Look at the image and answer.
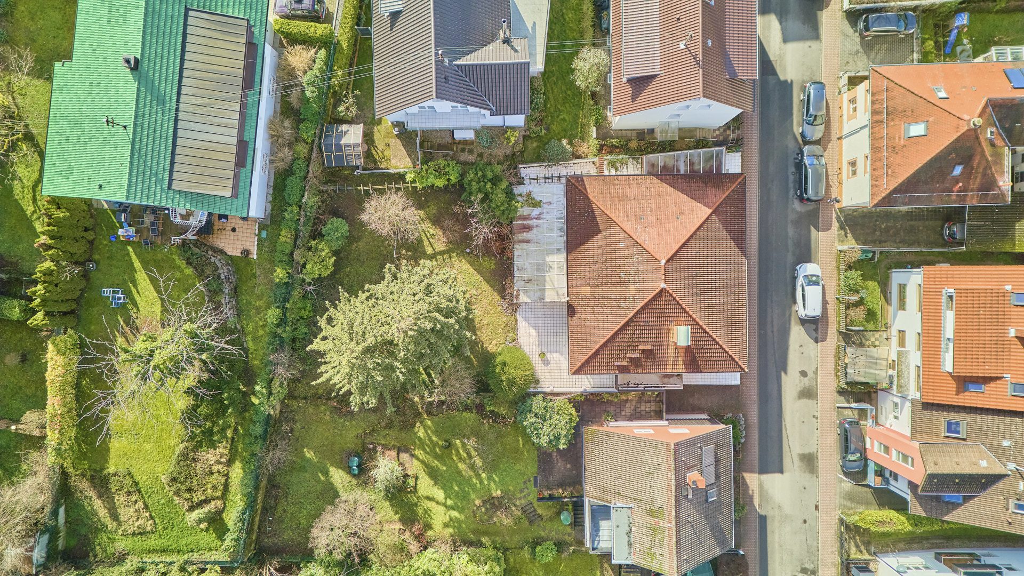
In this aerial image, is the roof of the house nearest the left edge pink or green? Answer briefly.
green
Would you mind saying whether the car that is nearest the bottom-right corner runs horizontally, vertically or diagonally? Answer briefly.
vertically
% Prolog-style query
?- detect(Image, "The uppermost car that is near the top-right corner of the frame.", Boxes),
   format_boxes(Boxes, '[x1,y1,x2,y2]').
[857,11,915,41]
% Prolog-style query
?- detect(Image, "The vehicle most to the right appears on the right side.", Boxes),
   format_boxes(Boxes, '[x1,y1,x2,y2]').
[937,222,964,242]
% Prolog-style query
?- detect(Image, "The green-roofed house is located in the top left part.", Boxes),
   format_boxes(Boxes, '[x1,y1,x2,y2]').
[41,0,289,217]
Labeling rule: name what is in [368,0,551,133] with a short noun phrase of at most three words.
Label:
house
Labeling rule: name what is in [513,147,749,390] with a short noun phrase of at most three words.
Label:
house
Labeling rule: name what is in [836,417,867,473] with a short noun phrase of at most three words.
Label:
car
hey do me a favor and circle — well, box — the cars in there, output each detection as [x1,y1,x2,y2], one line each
[937,222,964,242]
[836,417,867,473]
[285,0,327,19]
[798,146,828,204]
[857,11,915,41]
[799,83,829,142]
[794,263,824,319]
